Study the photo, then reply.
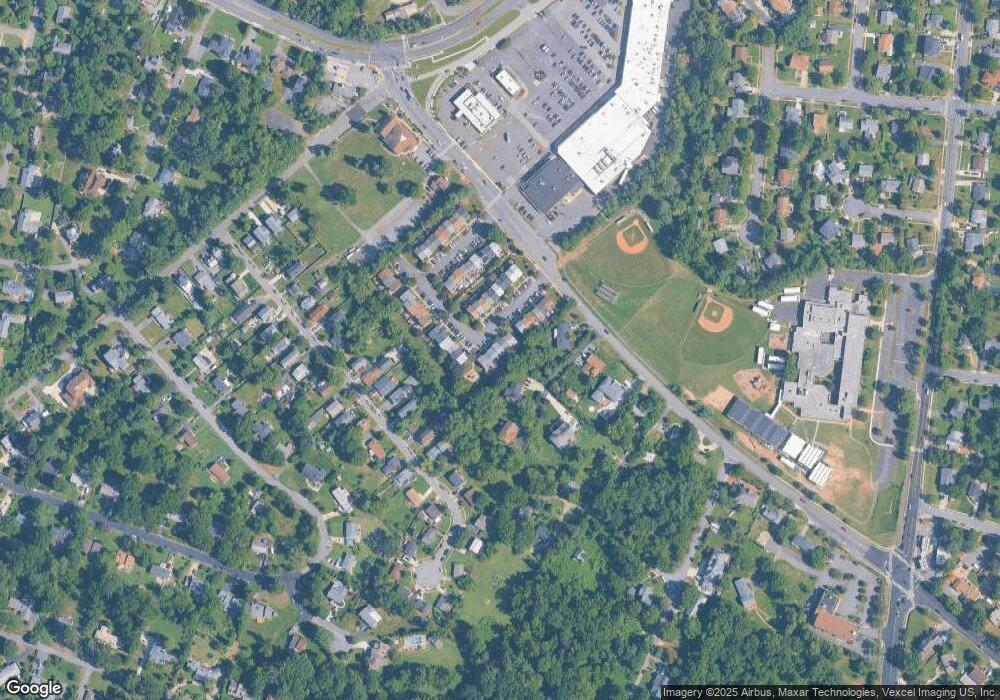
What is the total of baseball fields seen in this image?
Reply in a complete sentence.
The count of baseball fields comes to 2.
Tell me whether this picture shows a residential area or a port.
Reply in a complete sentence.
This looks like a residential area.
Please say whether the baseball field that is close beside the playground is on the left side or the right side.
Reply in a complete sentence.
The baseball field that is close beside the playground is on the right side of the image.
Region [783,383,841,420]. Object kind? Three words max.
building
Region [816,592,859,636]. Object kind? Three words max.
building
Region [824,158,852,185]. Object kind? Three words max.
house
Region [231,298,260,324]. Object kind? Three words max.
house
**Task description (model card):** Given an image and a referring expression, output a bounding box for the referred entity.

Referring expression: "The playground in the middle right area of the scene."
[733,370,777,402]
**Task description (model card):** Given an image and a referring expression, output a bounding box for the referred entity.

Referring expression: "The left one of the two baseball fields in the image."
[582,216,677,289]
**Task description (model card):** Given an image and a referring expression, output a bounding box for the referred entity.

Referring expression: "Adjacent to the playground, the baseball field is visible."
[684,292,779,372]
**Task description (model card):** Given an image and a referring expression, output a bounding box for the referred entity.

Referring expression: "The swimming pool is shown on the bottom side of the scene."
[402,633,428,647]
